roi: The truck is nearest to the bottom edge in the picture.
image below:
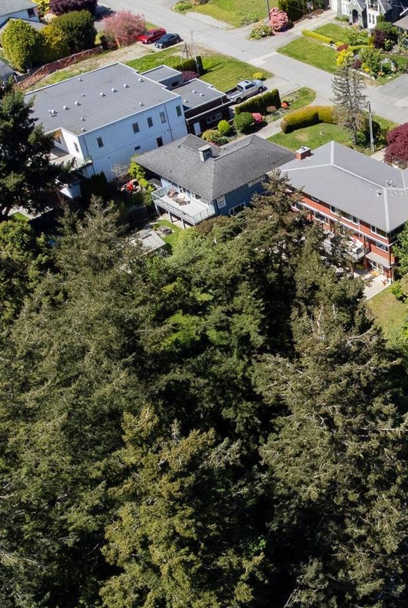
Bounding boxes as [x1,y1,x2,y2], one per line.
[226,77,262,99]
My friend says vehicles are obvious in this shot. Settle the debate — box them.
[137,25,165,40]
[154,31,180,45]
[226,77,262,99]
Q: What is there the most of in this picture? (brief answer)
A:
trees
